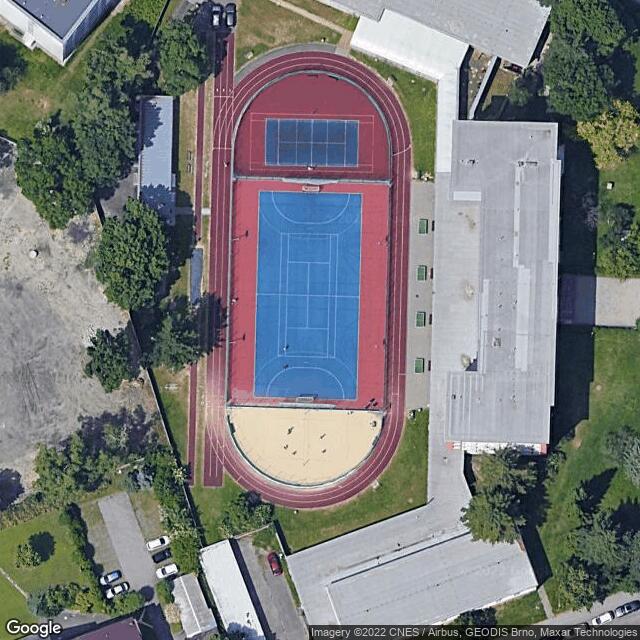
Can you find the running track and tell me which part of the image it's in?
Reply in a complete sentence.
The running track is in the center part of the image.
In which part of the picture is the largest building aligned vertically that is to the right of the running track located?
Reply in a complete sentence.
You can find the largest building aligned vertically that is to the right of the running track in the right area of the picture.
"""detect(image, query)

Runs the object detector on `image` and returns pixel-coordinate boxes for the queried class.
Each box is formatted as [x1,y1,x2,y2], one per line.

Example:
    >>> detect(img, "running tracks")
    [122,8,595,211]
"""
[202,30,412,511]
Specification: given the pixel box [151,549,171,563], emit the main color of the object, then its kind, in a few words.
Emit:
black car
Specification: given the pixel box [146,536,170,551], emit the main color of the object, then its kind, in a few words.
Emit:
white car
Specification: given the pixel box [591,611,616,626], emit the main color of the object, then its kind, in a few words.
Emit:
white car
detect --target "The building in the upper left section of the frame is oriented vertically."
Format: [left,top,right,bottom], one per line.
[138,96,174,229]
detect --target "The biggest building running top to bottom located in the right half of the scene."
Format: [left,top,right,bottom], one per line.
[446,121,561,455]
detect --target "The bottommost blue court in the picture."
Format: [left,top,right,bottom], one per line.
[228,181,389,408]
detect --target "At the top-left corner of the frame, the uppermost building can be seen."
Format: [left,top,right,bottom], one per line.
[0,0,124,66]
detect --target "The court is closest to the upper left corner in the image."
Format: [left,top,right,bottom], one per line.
[233,72,390,182]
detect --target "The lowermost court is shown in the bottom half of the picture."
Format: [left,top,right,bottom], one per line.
[227,406,384,488]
